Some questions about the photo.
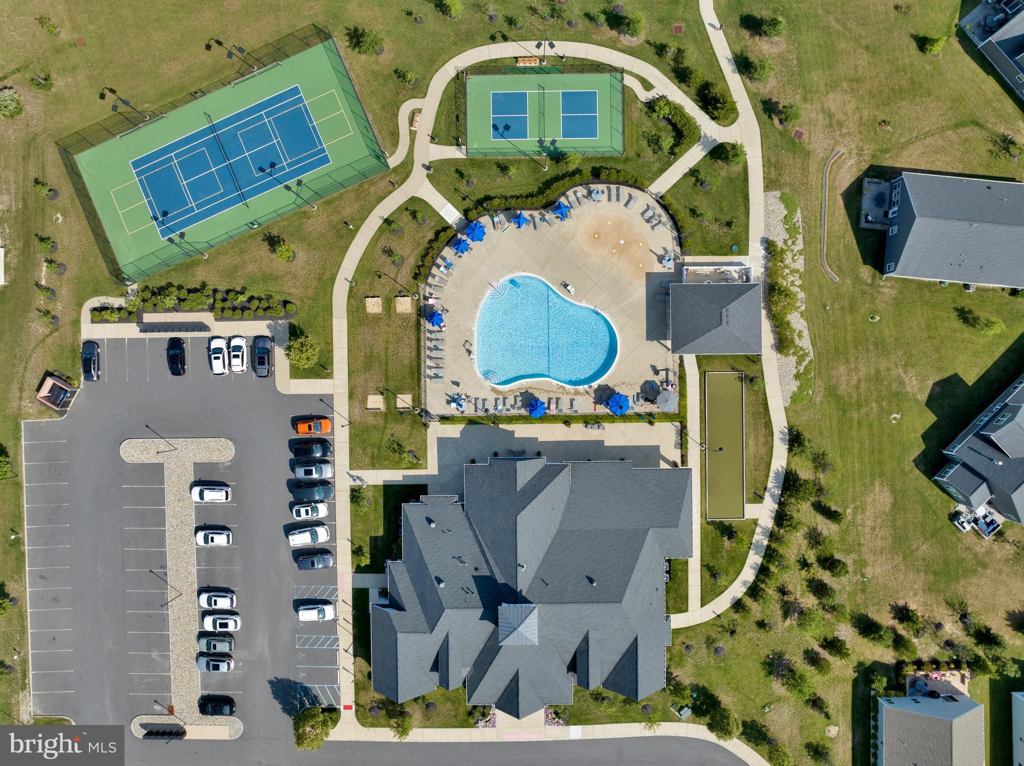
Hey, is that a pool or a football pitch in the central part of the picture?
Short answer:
pool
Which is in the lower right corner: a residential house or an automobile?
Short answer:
residential house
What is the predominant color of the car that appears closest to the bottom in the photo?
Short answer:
black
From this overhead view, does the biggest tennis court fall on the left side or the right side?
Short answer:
left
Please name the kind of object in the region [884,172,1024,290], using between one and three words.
house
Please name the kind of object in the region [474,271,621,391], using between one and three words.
swimming pool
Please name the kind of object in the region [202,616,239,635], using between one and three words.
car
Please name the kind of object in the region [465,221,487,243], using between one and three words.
umbrella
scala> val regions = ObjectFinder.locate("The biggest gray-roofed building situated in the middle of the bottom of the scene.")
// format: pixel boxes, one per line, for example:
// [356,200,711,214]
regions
[371,457,693,720]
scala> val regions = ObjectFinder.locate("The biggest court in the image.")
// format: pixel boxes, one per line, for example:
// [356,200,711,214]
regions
[74,39,388,283]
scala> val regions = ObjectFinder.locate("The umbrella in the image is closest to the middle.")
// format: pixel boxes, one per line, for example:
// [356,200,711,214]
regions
[527,398,547,417]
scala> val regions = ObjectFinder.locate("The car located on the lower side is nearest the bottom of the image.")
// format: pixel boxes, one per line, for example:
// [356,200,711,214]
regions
[198,701,235,721]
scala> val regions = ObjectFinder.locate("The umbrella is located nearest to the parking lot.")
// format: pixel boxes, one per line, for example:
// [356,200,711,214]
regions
[427,310,444,327]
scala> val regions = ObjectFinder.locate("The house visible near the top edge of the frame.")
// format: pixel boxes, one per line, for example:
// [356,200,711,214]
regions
[979,2,1024,99]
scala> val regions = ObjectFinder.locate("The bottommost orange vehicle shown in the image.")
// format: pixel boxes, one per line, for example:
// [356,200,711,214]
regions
[294,419,330,436]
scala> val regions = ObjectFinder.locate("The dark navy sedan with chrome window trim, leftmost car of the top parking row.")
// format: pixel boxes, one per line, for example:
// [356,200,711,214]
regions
[78,341,99,380]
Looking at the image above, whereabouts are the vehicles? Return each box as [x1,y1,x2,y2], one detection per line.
[202,616,239,635]
[198,701,235,721]
[252,337,272,376]
[165,338,185,375]
[296,606,334,625]
[197,637,233,656]
[228,338,247,373]
[291,484,333,502]
[194,532,231,549]
[196,657,233,677]
[293,463,332,481]
[78,341,99,380]
[292,441,331,459]
[295,554,333,573]
[190,487,230,505]
[208,338,229,375]
[198,594,235,613]
[291,503,328,521]
[286,527,329,548]
[294,419,330,436]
